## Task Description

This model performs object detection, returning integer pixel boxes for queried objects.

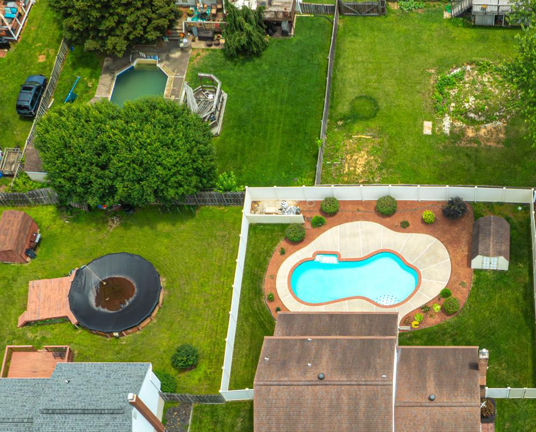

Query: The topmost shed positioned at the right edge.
[472,212,511,269]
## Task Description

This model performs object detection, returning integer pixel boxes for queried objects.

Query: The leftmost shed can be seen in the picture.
[0,208,43,266]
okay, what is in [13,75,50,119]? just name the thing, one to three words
car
